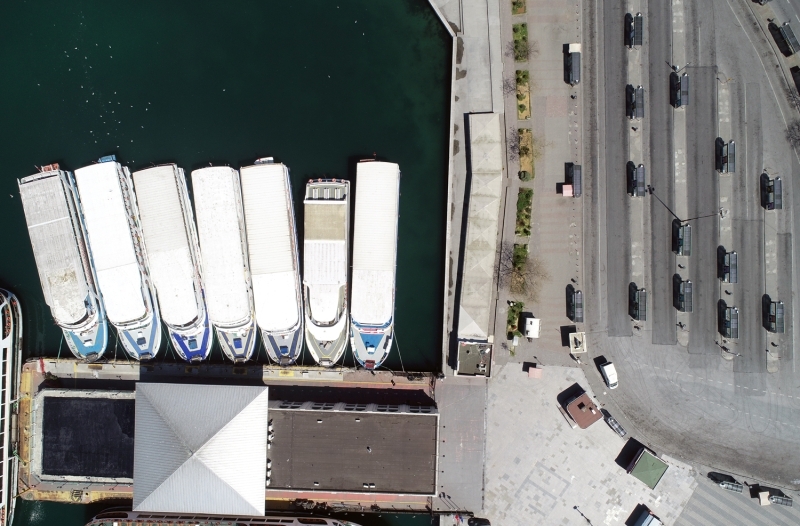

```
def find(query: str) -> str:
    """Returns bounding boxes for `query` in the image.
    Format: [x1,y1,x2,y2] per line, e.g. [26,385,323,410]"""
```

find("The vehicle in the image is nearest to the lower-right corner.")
[597,360,617,388]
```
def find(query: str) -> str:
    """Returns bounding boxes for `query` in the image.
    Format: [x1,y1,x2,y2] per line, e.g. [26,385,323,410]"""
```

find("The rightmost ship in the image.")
[348,152,401,374]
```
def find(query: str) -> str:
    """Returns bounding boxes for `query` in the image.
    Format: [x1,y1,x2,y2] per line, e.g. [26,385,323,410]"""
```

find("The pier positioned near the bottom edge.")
[21,357,437,513]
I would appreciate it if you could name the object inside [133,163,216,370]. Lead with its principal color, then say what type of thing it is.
white ship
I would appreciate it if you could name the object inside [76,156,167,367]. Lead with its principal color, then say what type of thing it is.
white ship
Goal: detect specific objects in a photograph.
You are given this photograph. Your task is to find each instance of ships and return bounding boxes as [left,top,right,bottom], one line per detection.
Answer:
[133,163,216,370]
[0,287,27,526]
[87,507,369,526]
[76,156,167,367]
[241,156,305,370]
[348,152,401,374]
[192,164,259,370]
[302,170,351,374]
[17,167,113,371]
